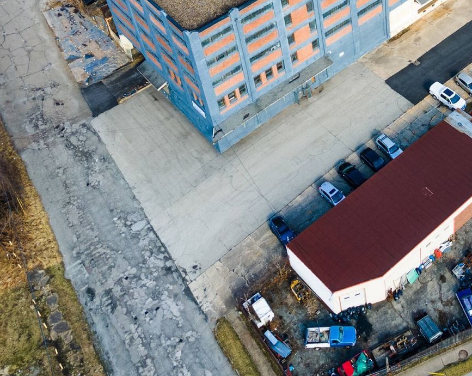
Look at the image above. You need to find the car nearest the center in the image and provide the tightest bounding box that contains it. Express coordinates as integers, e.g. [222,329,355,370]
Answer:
[265,214,297,250]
